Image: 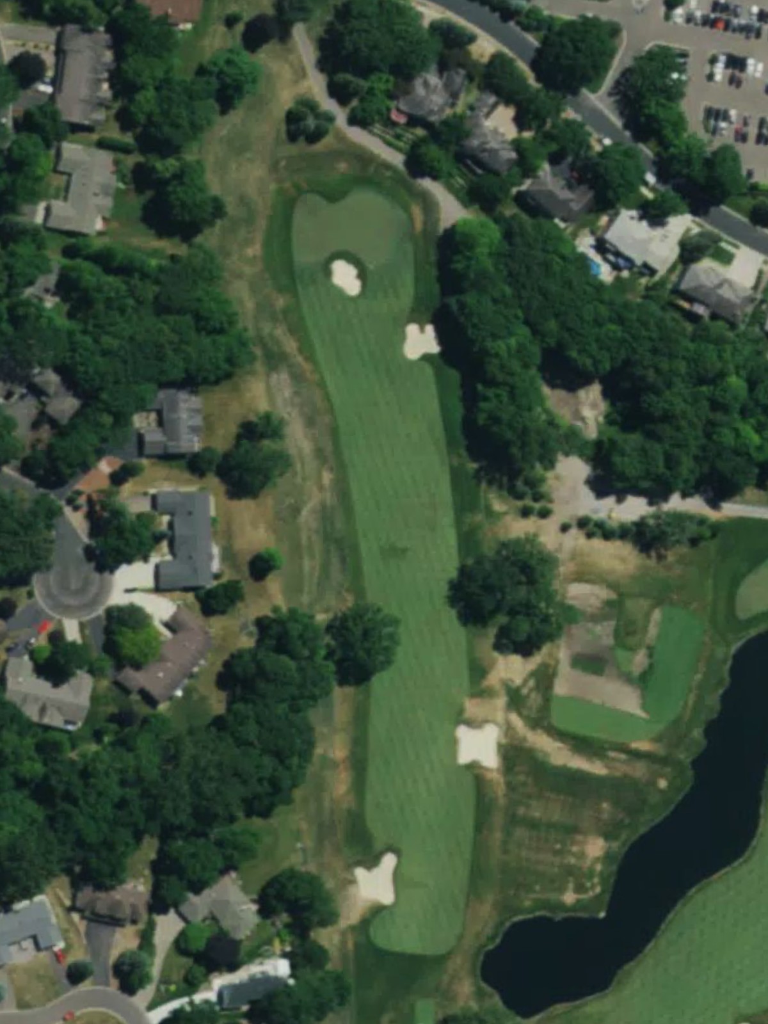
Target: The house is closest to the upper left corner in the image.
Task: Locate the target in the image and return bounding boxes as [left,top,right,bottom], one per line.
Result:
[58,23,113,125]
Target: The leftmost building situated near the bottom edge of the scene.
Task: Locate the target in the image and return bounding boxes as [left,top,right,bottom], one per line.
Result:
[0,894,69,973]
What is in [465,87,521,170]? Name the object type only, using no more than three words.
house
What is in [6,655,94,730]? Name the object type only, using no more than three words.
house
